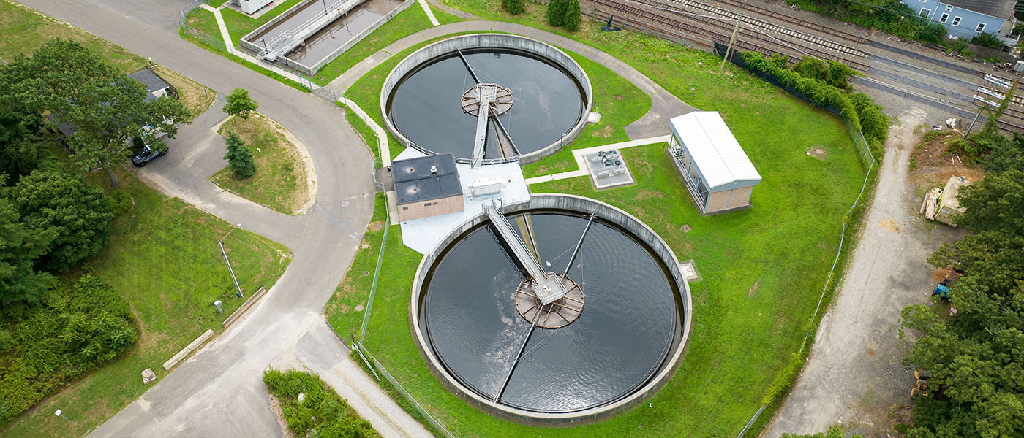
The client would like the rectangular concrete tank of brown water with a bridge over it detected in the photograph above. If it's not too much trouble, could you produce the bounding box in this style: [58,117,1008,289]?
[242,0,416,75]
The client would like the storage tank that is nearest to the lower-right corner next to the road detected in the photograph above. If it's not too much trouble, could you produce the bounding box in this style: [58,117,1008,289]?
[412,193,692,425]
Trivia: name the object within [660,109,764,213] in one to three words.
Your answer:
shed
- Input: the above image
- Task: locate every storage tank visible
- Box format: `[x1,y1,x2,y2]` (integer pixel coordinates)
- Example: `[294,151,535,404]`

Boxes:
[380,33,592,167]
[412,193,692,425]
[242,0,416,75]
